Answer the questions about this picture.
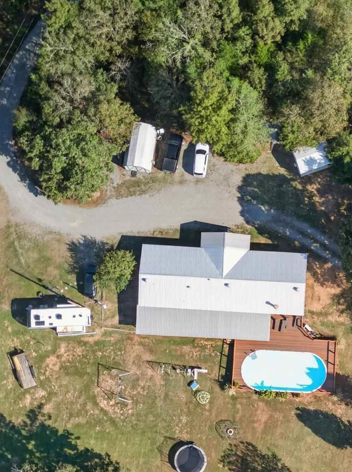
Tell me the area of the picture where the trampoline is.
bottom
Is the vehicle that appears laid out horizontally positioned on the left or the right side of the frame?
left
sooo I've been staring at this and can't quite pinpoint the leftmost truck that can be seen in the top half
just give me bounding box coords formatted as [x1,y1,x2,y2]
[161,132,183,176]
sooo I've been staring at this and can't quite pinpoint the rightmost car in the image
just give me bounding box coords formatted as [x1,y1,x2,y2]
[193,143,210,179]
